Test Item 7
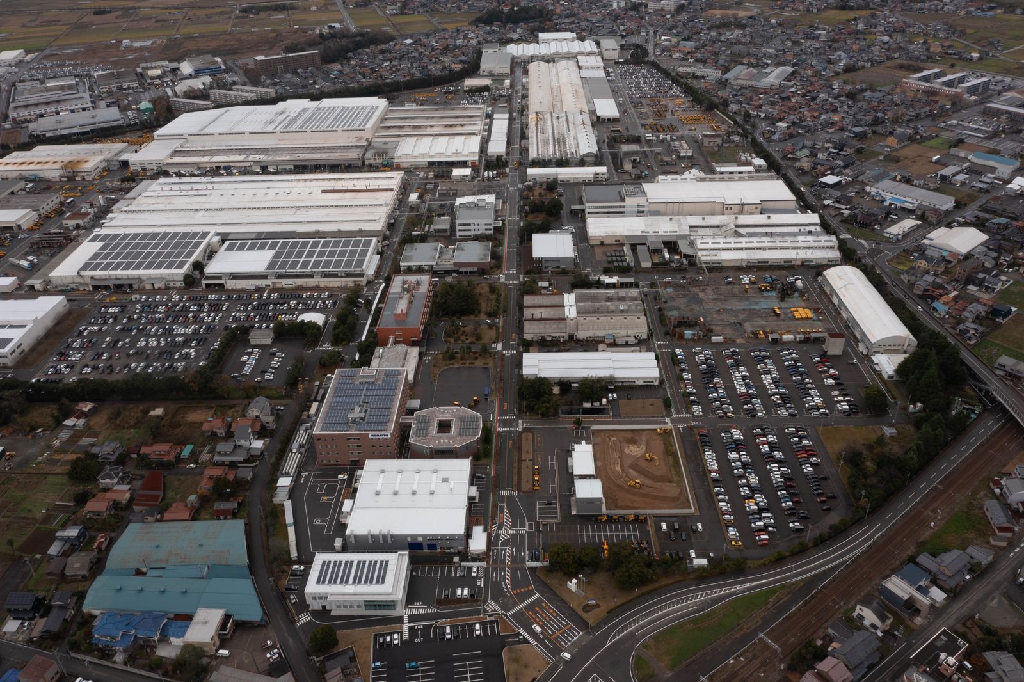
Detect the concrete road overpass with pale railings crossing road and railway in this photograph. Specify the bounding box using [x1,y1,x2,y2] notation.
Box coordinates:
[921,316,1024,424]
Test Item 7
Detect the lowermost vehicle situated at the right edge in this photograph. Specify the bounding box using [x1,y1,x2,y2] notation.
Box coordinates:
[960,658,976,671]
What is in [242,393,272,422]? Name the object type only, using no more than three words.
house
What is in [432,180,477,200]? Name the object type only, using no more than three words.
shed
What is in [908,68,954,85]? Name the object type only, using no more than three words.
building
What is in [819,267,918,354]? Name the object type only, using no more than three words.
building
